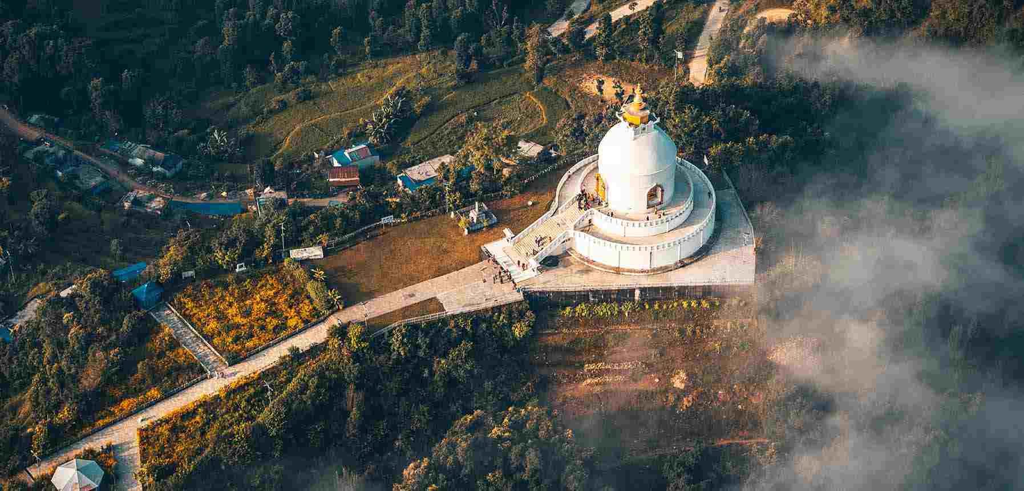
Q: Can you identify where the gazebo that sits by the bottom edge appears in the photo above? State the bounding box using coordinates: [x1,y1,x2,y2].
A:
[49,459,106,491]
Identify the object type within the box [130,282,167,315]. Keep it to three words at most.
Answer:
building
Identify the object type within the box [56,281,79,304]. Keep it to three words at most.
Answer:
shed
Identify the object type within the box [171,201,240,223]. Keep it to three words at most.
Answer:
shed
